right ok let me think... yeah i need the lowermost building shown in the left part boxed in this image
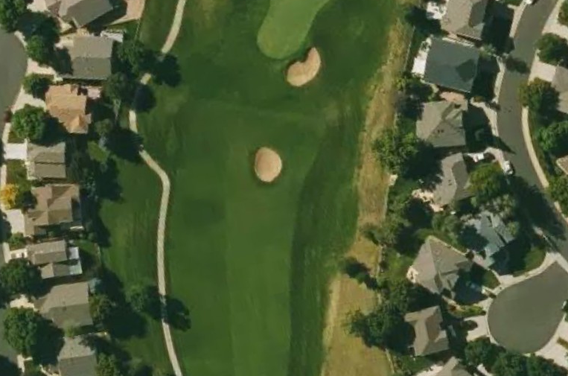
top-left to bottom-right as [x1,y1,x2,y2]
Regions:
[57,335,97,376]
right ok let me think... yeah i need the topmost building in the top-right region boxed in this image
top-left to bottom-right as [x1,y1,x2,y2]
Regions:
[440,0,488,38]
